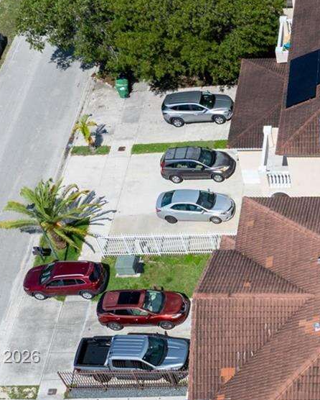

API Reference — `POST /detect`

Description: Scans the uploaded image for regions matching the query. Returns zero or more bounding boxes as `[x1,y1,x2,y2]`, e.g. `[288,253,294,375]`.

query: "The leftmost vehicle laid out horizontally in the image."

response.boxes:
[21,257,111,300]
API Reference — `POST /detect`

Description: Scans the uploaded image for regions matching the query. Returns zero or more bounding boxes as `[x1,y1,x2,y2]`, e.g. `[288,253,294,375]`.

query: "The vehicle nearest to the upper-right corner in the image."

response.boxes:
[161,90,235,127]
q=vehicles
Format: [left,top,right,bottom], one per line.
[158,146,237,184]
[21,257,111,300]
[161,90,235,127]
[154,189,237,226]
[72,333,189,382]
[95,287,191,331]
